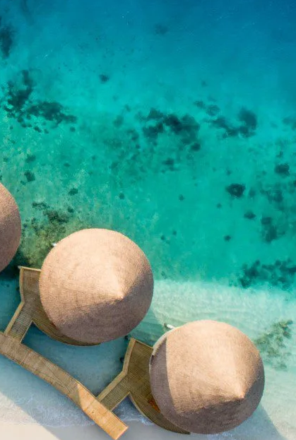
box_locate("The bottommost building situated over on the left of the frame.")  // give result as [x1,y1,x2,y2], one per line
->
[4,228,153,347]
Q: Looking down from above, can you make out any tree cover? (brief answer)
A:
No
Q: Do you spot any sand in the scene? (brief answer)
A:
Yes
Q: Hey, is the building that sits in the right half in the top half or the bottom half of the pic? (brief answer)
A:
bottom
